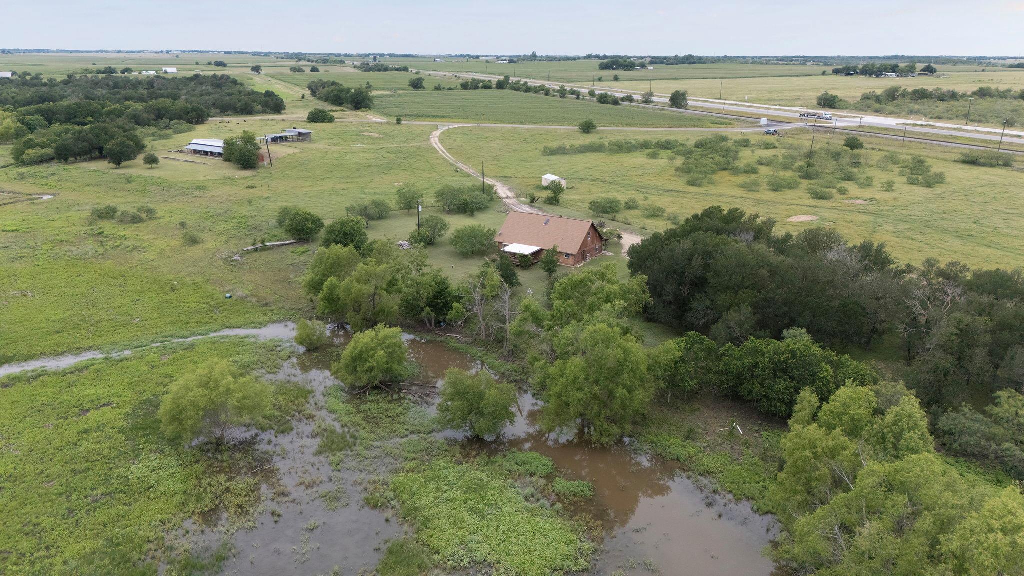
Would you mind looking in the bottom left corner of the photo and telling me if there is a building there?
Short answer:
No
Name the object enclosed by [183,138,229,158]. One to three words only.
house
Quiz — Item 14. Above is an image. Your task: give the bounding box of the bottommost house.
[496,210,611,267]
